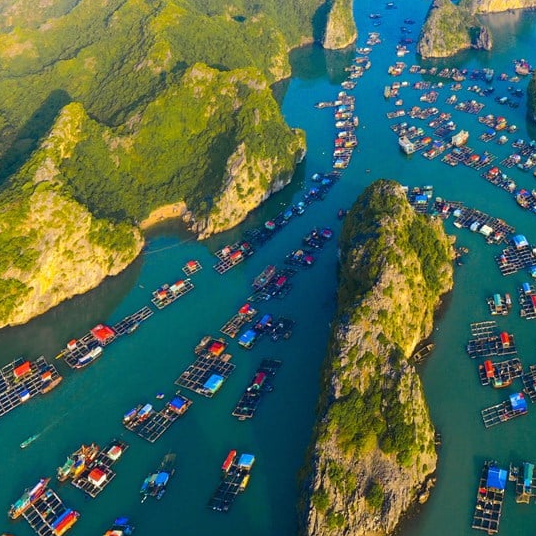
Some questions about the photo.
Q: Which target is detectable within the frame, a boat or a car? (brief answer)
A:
boat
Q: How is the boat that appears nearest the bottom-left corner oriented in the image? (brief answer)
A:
on a diagonal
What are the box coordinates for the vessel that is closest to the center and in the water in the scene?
[252,262,278,286]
